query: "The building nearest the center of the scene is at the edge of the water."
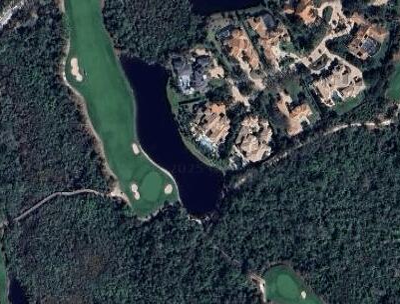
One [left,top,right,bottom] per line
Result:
[193,99,235,153]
